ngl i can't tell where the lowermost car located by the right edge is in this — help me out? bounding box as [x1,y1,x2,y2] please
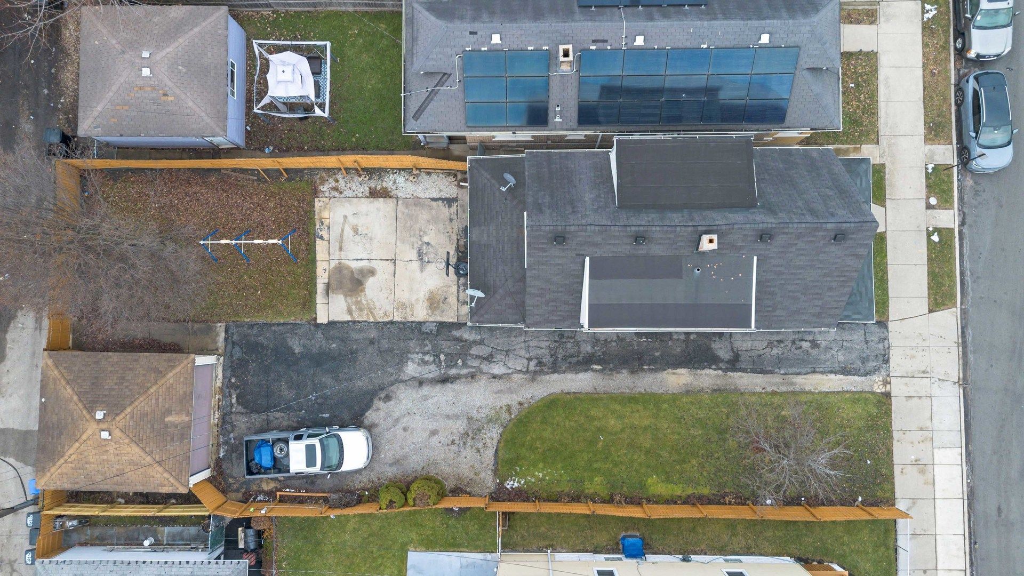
[953,73,1018,176]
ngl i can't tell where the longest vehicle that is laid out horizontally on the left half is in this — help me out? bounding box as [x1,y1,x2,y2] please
[246,425,377,481]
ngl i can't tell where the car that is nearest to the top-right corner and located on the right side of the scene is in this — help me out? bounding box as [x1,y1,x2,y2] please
[954,0,1021,64]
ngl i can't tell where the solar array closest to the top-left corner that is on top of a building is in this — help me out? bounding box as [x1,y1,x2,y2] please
[464,43,548,127]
